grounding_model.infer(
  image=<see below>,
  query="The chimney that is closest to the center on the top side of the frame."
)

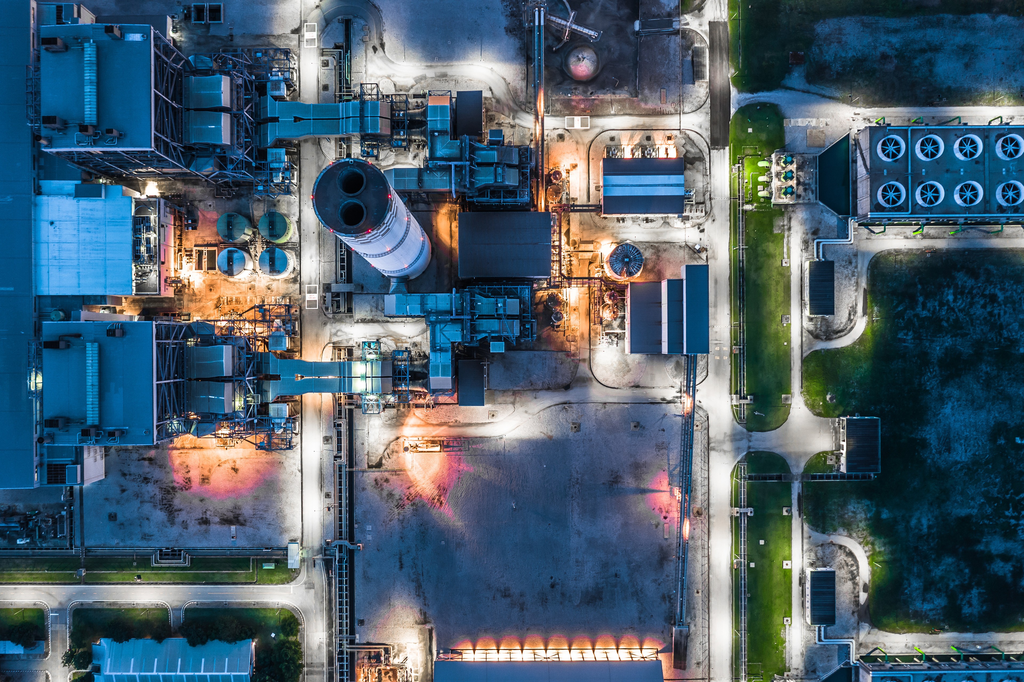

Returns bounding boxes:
[310,158,431,274]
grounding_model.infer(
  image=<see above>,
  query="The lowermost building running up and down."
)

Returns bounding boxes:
[668,621,690,670]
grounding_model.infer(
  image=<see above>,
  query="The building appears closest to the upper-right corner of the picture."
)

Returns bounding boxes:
[769,152,819,204]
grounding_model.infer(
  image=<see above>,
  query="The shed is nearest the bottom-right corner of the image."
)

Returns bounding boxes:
[805,567,836,625]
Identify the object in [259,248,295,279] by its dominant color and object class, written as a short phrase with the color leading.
blue storage tank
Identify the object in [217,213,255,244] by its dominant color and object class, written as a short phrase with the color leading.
blue storage tank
